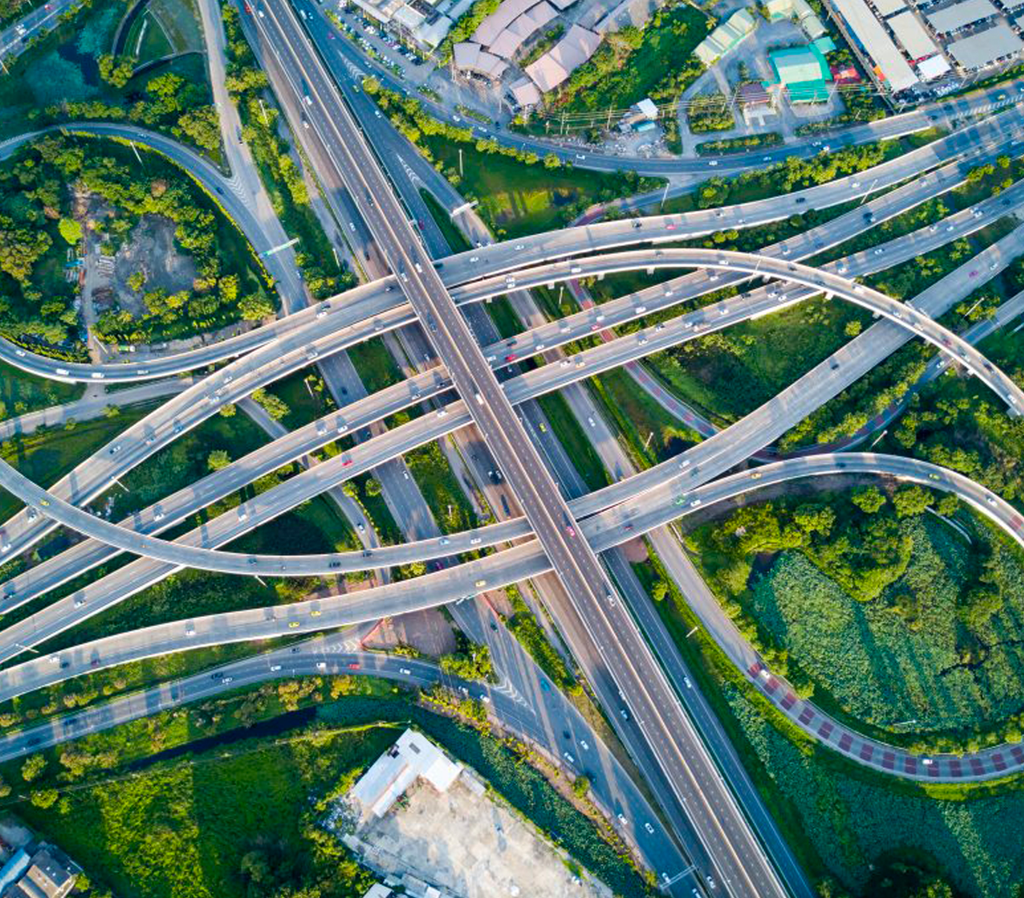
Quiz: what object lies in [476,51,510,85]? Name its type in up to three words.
shed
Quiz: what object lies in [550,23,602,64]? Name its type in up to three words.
shed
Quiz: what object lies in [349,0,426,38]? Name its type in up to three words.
building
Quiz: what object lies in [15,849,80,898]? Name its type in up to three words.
house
